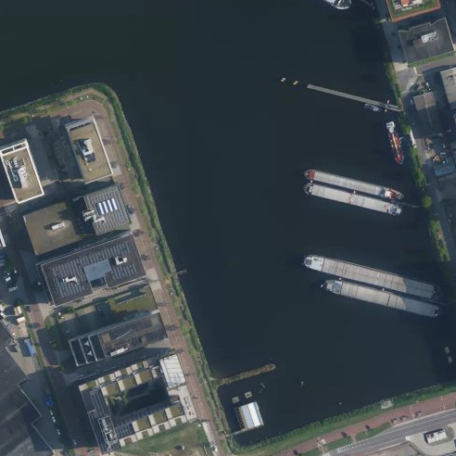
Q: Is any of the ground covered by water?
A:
Yes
